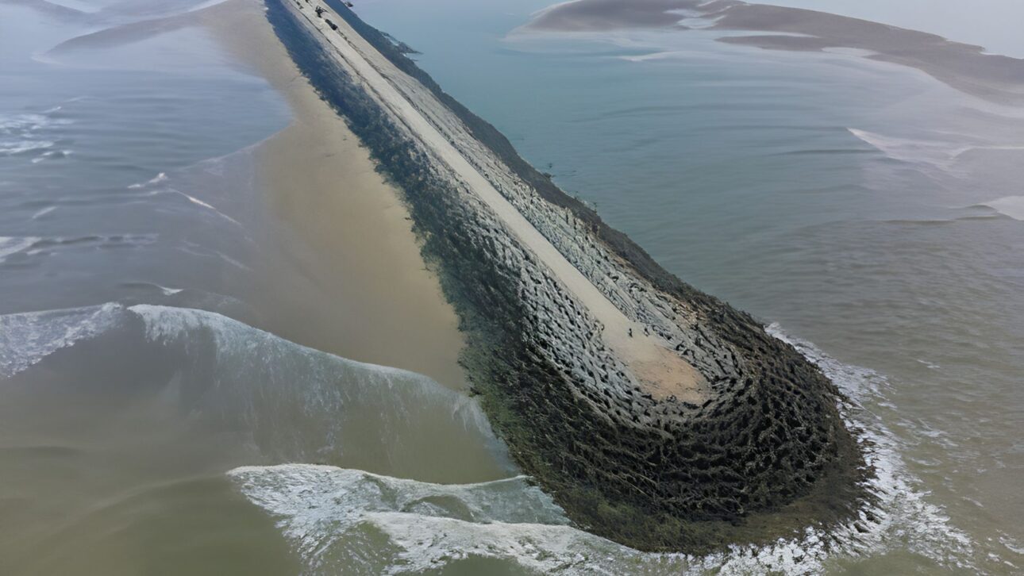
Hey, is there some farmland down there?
No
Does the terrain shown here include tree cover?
No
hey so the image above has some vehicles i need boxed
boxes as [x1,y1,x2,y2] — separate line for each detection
[296,0,303,7]
[328,22,336,30]
[314,7,330,18]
